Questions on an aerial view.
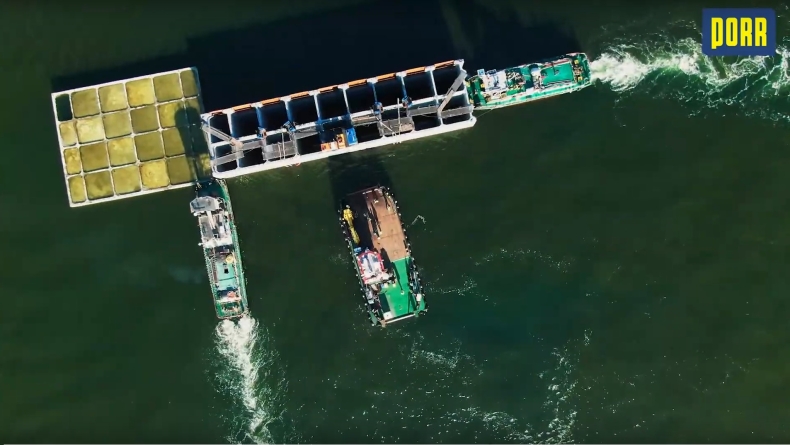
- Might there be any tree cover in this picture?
No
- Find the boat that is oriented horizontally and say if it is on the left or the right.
right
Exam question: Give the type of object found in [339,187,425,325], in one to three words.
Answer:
vessel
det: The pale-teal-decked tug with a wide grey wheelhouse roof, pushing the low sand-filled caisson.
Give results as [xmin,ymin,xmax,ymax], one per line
[189,181,247,318]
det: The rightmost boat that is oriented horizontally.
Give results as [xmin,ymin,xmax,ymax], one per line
[468,56,589,108]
